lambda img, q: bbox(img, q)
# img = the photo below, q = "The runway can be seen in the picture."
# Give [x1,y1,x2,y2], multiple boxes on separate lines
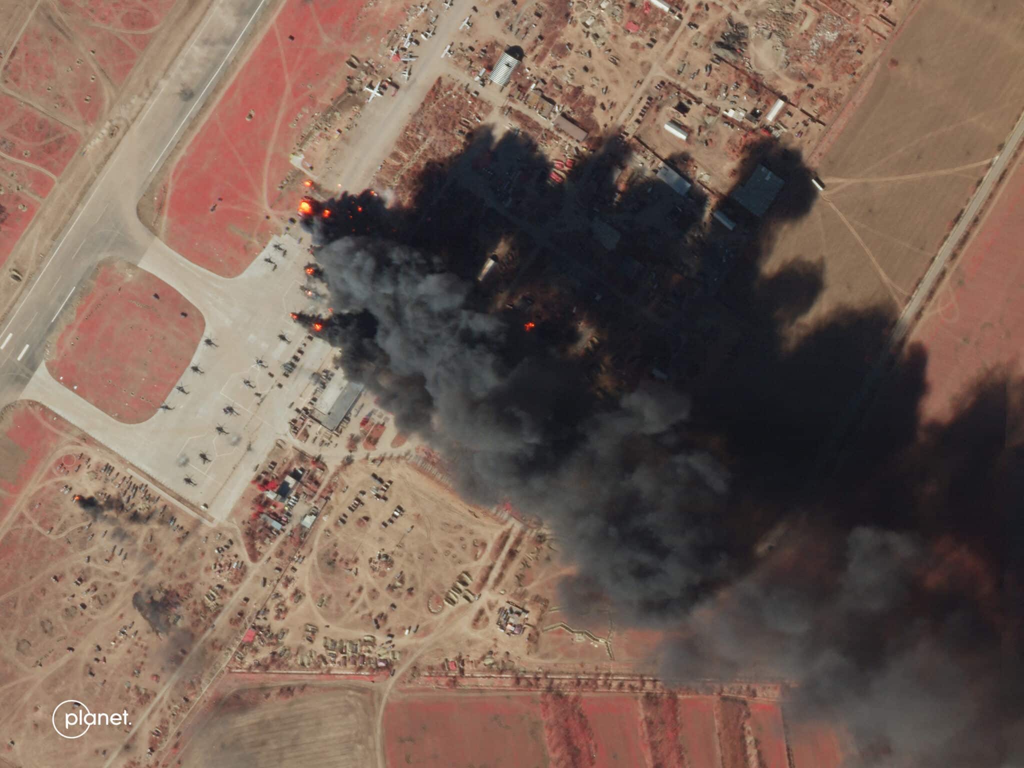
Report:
[0,0,276,415]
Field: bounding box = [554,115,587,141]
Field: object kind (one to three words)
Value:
shed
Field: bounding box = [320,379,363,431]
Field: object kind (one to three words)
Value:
building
